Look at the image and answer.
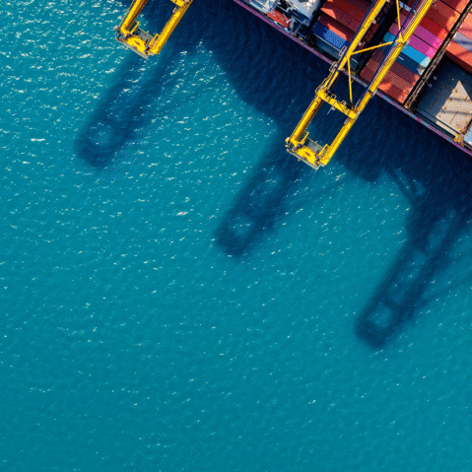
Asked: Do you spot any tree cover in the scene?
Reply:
No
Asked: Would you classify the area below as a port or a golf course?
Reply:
port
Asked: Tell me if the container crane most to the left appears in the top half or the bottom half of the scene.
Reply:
top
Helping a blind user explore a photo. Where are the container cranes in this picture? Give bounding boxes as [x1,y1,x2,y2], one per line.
[281,0,429,168]
[111,0,191,58]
